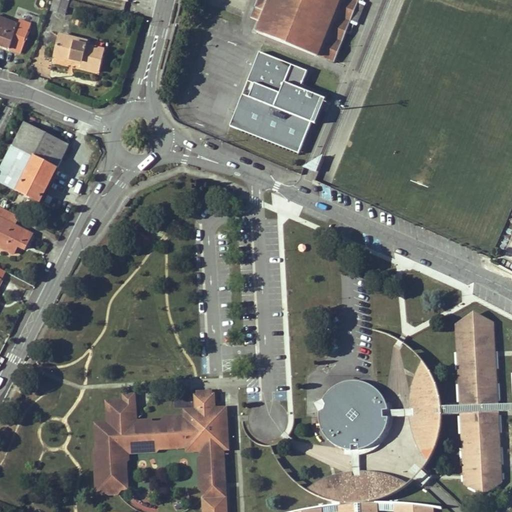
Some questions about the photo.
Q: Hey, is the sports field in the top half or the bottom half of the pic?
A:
top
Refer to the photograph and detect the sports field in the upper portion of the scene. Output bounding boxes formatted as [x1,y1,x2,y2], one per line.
[331,0,512,254]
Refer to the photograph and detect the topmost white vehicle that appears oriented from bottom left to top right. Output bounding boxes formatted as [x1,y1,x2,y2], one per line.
[136,152,158,170]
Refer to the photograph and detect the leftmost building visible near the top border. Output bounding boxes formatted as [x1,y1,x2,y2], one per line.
[0,14,32,54]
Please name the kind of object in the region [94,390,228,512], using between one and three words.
building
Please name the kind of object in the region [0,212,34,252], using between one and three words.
house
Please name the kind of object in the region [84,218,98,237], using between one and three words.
vehicle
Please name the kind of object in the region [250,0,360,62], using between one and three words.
building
